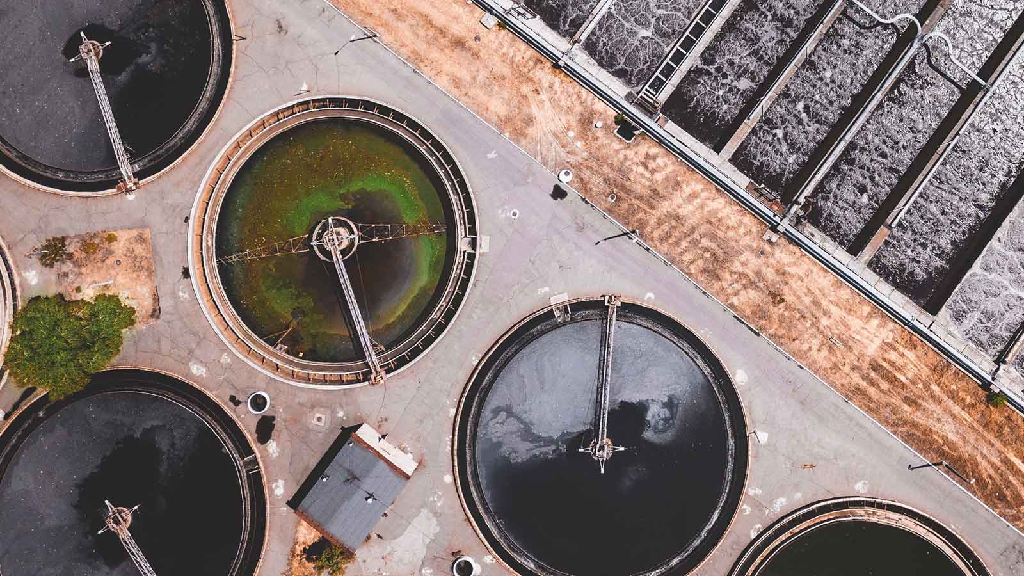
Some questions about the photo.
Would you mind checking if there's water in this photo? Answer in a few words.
Yes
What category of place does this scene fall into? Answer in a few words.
industrial area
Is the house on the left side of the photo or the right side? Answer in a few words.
left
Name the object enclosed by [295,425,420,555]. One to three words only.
house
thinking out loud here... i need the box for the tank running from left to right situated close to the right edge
[730,496,991,576]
